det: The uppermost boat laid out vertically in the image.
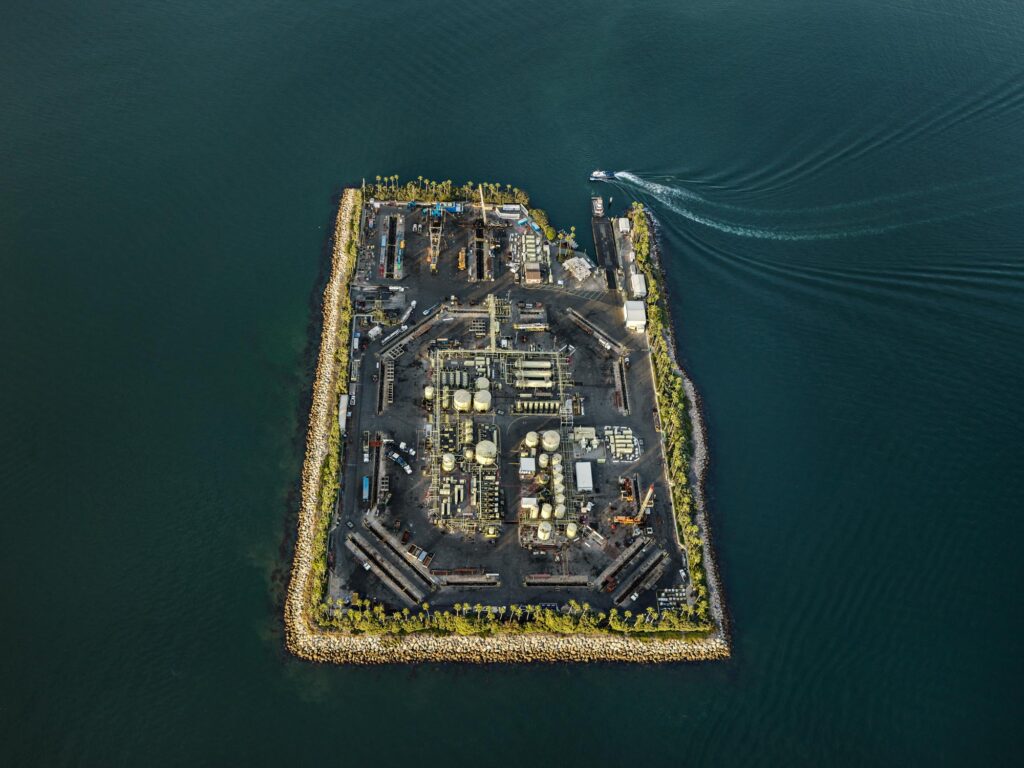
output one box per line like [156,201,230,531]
[592,195,605,218]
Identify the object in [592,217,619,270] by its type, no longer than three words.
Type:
ship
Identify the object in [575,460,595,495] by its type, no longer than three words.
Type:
shed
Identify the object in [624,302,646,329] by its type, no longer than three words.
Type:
building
